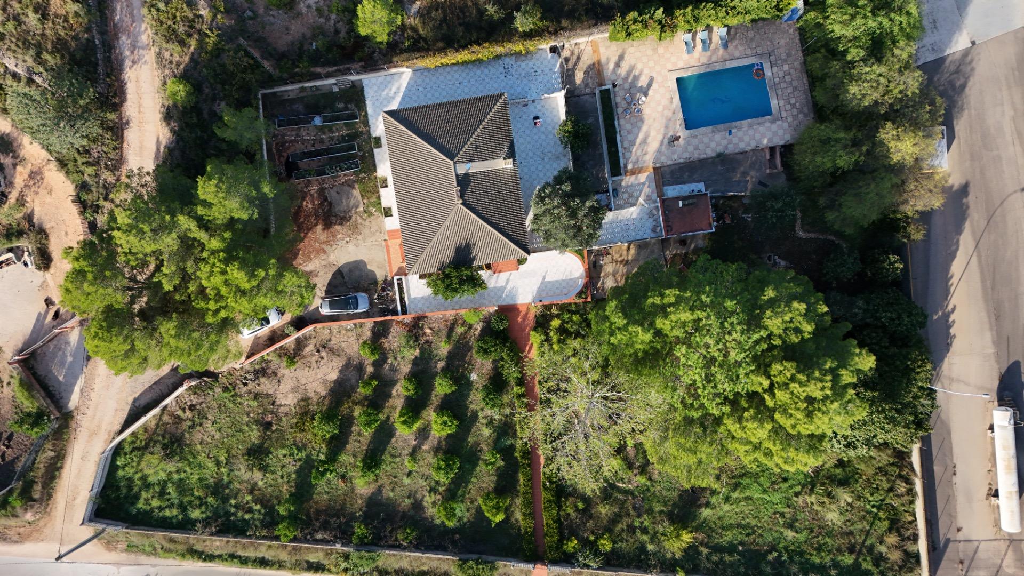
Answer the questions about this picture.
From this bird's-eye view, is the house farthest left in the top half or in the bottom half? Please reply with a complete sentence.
The house farthest left sits in the top half of the picture.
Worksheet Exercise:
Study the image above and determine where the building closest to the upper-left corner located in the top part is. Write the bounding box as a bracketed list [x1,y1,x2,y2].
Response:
[381,91,531,276]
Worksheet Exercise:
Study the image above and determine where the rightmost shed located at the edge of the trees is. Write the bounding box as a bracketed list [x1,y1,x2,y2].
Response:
[924,126,949,173]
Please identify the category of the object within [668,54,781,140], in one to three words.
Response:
swimming pool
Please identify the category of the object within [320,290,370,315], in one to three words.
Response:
car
